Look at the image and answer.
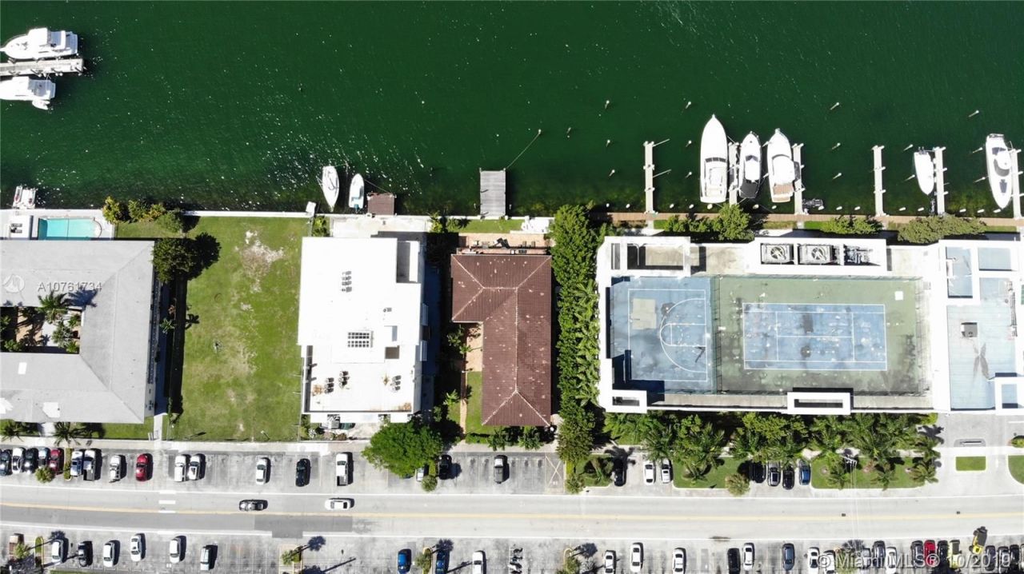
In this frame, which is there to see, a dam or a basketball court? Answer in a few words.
basketball court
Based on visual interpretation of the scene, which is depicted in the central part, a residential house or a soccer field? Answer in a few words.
residential house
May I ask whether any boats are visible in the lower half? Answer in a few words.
No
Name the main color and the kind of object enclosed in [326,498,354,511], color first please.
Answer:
white vehicle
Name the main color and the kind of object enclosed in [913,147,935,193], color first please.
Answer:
white boat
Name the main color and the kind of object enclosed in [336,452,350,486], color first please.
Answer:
white vehicle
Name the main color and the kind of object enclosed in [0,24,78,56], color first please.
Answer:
white boat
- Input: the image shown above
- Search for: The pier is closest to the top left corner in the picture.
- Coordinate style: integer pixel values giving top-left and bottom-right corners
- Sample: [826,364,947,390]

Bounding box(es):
[0,52,85,79]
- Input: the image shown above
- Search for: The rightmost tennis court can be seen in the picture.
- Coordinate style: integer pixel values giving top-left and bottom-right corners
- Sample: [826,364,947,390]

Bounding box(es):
[718,277,926,393]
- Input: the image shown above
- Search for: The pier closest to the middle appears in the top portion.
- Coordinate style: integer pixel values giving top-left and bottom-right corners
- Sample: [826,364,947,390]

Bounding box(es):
[478,166,509,218]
